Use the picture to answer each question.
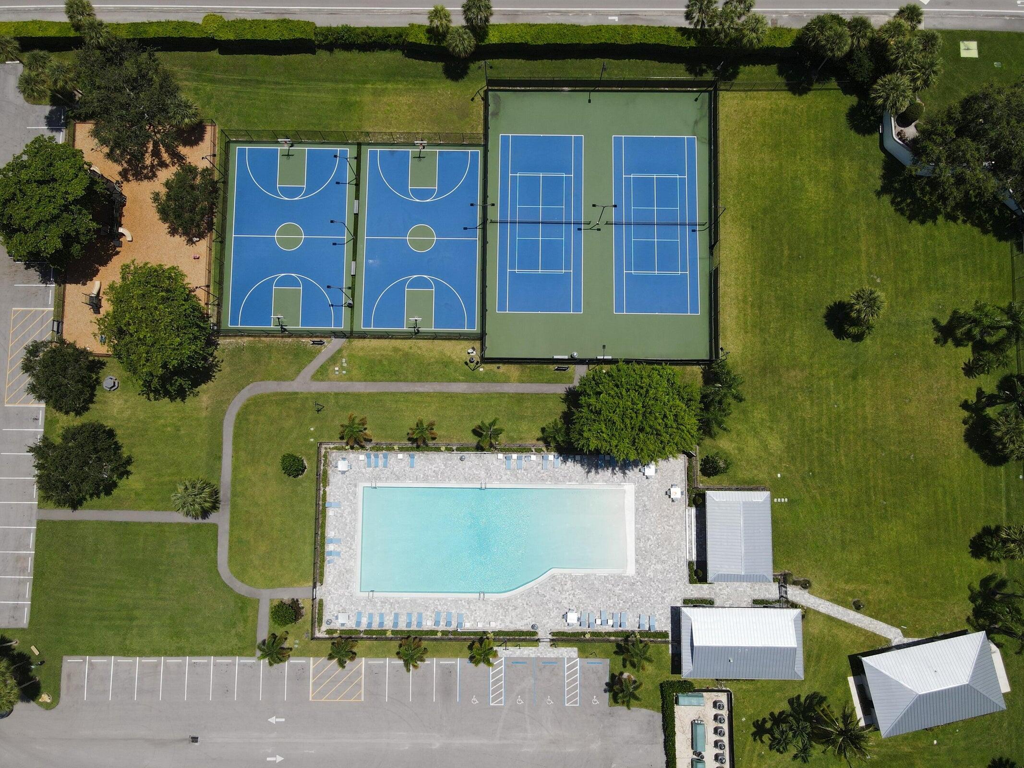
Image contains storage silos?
No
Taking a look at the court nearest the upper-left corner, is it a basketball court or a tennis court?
basketball court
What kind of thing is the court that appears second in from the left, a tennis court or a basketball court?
basketball court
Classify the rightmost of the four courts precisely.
tennis court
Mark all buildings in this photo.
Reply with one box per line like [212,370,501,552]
[703,491,774,583]
[853,627,1007,738]
[677,605,804,680]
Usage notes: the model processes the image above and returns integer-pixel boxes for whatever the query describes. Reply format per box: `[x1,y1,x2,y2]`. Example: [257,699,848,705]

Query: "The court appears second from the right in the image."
[486,90,599,361]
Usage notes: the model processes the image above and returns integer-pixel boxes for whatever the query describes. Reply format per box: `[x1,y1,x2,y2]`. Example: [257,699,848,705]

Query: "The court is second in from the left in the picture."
[353,143,484,338]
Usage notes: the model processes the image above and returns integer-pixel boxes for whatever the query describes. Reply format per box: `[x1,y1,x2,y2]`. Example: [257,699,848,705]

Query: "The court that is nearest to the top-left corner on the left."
[220,141,357,336]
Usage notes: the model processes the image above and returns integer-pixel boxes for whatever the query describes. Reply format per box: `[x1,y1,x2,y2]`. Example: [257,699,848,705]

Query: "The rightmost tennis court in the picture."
[598,90,713,361]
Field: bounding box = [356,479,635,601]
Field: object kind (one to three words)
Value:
swimming pool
